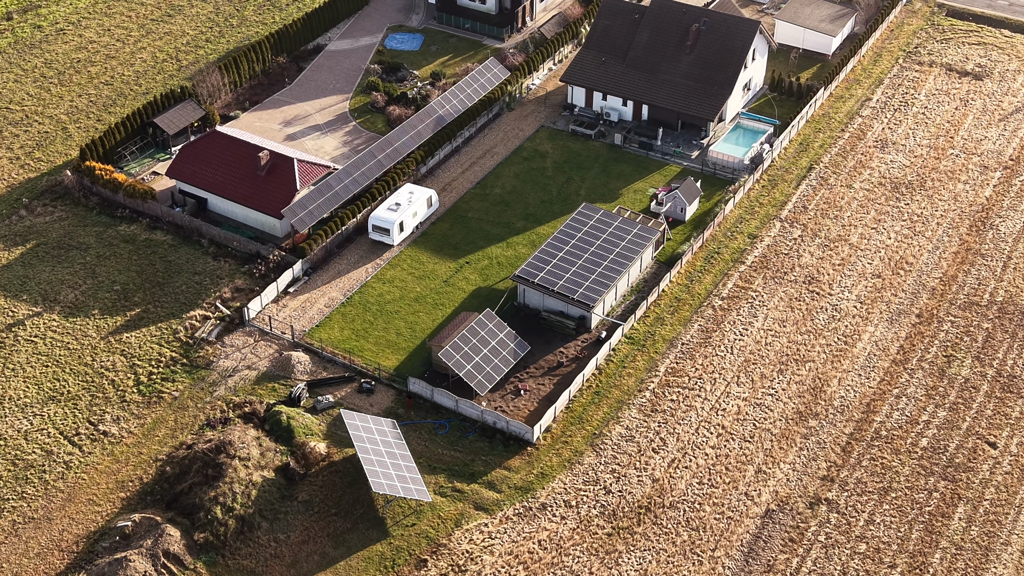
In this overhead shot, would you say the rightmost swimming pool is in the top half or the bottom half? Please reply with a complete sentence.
The rightmost swimming pool sits in the top half of the picture.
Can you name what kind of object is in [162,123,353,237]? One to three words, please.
building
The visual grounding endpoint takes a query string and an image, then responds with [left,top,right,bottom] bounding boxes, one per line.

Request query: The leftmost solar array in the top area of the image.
[282,55,508,235]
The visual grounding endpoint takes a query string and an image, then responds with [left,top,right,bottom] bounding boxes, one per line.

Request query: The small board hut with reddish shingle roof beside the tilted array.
[425,318,474,377]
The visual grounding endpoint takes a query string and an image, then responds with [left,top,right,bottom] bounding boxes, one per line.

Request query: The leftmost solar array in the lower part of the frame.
[340,411,431,515]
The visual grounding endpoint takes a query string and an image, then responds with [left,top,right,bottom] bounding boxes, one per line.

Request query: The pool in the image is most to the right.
[707,113,774,170]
